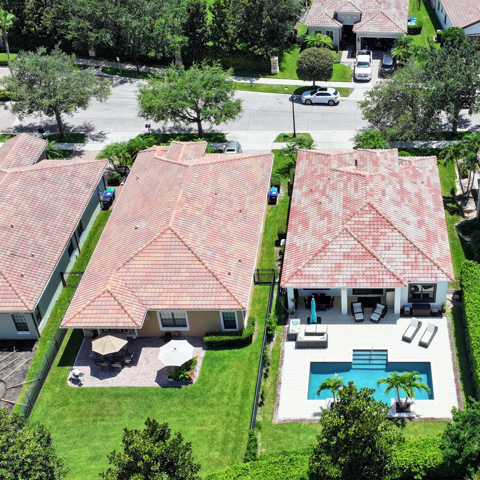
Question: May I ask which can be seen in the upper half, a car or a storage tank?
car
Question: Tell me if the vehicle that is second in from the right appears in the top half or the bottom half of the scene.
top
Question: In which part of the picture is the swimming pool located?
bottom right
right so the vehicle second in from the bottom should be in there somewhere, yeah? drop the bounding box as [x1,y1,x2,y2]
[302,89,341,108]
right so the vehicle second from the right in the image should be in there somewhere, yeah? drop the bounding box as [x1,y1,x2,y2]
[354,54,374,83]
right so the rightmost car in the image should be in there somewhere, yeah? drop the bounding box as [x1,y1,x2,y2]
[379,53,397,77]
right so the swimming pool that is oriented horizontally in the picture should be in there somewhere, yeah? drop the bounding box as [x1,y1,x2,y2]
[308,350,434,400]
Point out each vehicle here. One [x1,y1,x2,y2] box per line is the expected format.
[354,54,374,83]
[379,53,397,77]
[222,137,241,153]
[302,89,341,108]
